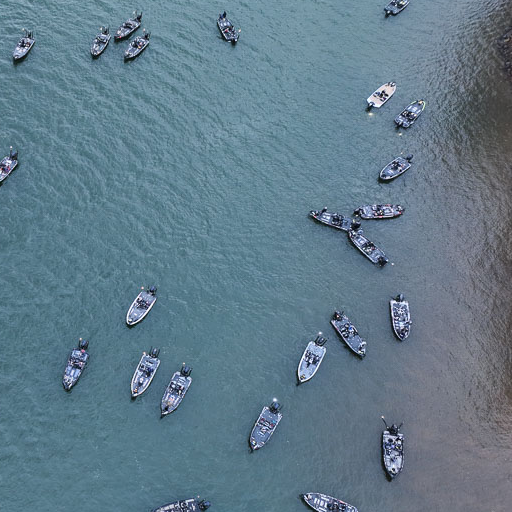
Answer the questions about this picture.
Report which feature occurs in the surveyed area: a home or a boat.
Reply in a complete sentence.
I can see a boat in this picture.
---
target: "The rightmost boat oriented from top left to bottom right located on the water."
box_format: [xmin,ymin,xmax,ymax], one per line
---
[349,229,394,267]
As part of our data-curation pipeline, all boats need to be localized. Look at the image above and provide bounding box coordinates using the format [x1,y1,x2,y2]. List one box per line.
[125,30,149,59]
[131,348,160,397]
[12,29,35,60]
[160,363,192,414]
[384,0,410,16]
[92,26,111,56]
[383,418,405,479]
[332,309,366,357]
[251,399,282,451]
[304,492,360,512]
[354,204,406,219]
[395,99,425,128]
[114,14,141,40]
[154,497,208,512]
[380,152,413,181]
[0,147,18,182]
[64,341,89,390]
[219,14,240,44]
[128,285,157,326]
[299,333,326,383]
[349,229,394,267]
[367,80,397,109]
